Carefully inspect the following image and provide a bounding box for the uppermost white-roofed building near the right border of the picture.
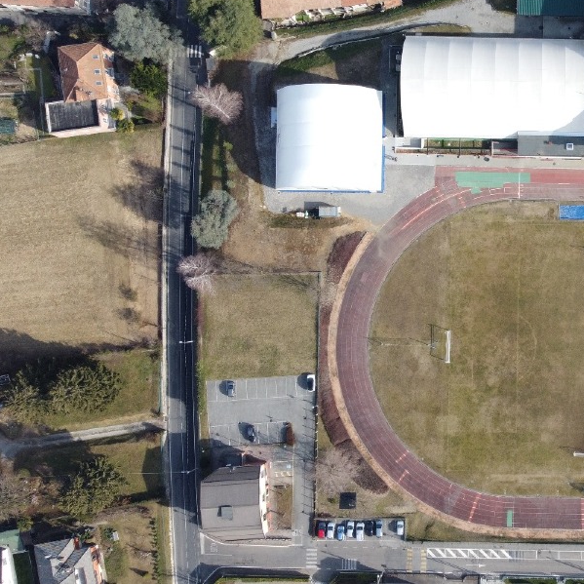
[400,40,584,141]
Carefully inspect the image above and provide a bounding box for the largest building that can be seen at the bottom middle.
[200,463,271,542]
